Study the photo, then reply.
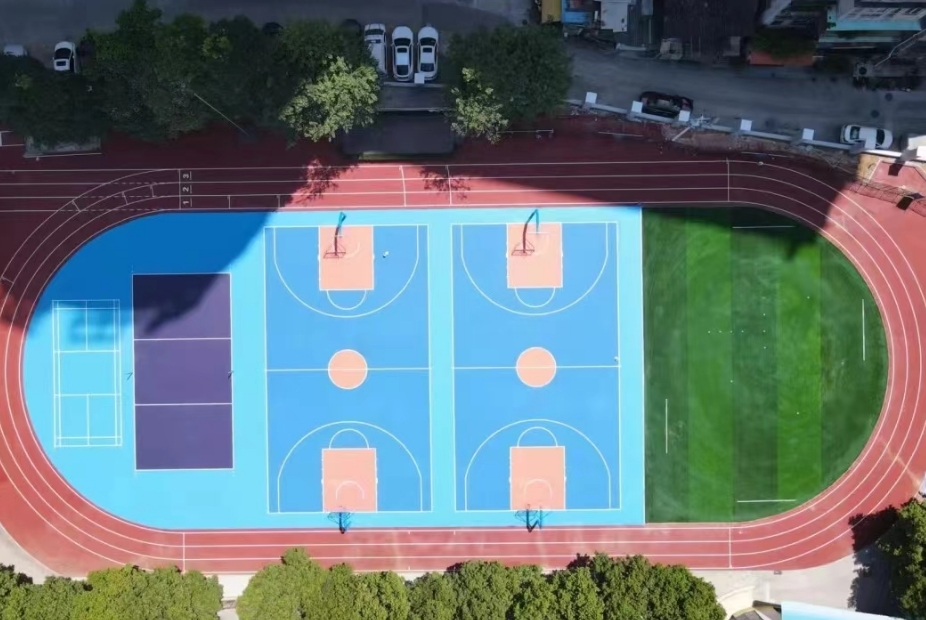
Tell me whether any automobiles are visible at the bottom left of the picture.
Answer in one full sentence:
No, looking at the bottom left of the picture, there is no automobile.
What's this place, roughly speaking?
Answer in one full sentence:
The picture captures a sports ground.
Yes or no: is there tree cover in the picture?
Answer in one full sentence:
Yes, there is tree cover in the image.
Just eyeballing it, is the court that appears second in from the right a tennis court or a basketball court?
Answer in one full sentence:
Looking closely, the court that appears second in from the right is a basketball court.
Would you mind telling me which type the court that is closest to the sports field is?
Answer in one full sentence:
From above, the court that is closest to the sports field can be identified as a basketball court.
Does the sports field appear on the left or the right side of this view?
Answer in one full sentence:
The sports field appears in the right half of the scene.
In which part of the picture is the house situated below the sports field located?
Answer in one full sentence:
The house situated below the sports field is in the bottom right part of the image.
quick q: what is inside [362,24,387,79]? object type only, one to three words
car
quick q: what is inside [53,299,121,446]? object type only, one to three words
sports court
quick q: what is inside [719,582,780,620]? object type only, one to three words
house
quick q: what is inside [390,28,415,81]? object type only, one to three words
car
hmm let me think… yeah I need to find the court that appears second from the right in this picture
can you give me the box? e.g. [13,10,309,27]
[265,225,431,514]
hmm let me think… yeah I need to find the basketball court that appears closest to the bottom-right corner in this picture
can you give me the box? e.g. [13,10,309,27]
[453,222,619,512]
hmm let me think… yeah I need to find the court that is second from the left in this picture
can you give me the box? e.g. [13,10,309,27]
[133,272,232,470]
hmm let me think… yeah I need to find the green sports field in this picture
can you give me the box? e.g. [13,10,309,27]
[641,205,890,525]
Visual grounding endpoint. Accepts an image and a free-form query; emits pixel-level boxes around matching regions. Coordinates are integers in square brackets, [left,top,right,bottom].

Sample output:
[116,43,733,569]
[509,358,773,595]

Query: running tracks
[0,118,926,578]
